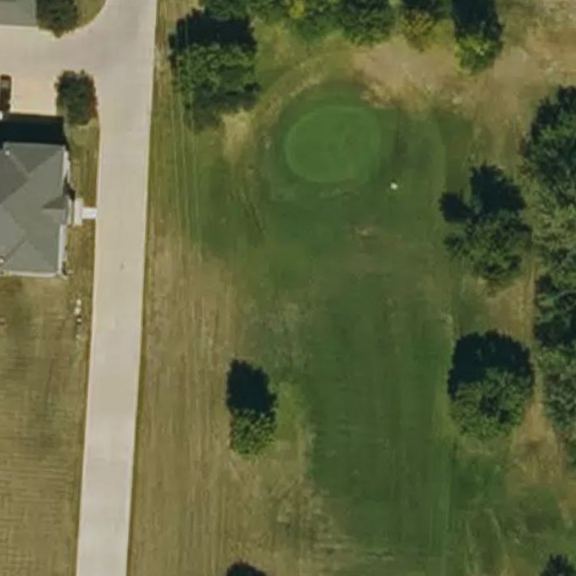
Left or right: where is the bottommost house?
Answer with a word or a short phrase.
left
